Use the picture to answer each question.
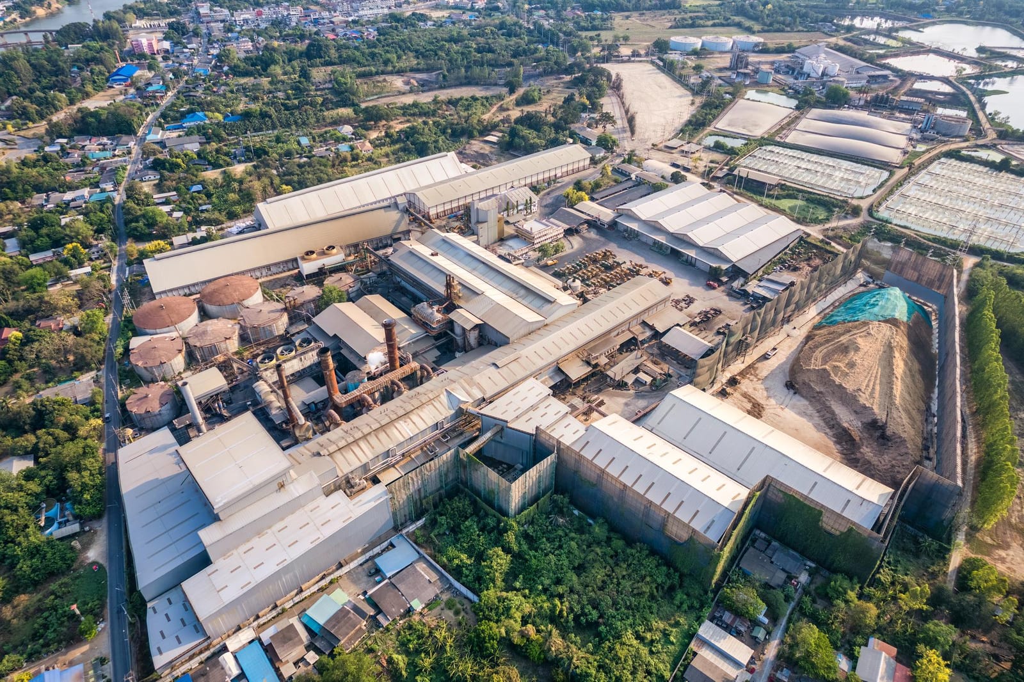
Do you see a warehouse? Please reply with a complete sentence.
Yes, the frame does contain a warehouse.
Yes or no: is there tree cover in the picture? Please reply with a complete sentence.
Yes, some tree cover is visible.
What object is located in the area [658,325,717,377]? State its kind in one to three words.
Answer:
shed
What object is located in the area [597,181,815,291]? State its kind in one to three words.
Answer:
warehouse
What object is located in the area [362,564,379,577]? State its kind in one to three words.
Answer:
vehicle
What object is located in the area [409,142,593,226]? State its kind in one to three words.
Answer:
building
